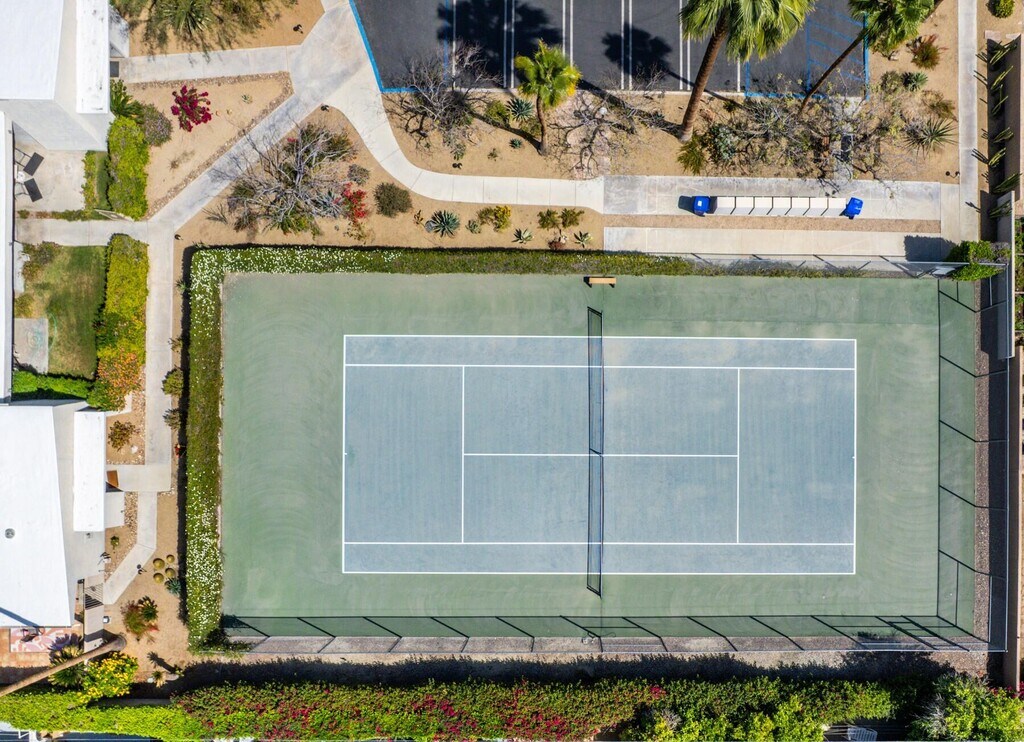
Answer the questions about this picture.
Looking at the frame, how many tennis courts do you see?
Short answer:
1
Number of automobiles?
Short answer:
0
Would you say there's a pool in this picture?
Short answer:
No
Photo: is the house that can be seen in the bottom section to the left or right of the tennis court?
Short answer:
to its left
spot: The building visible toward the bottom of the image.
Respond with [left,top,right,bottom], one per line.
[0,399,124,626]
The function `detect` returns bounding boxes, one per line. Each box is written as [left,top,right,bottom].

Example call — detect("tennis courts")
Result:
[221,272,975,637]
